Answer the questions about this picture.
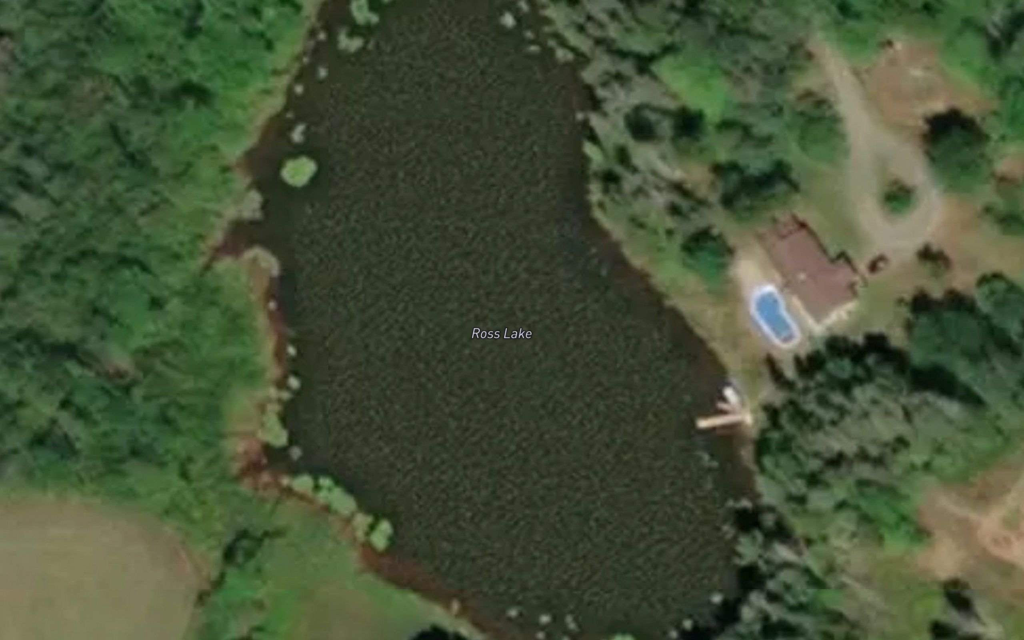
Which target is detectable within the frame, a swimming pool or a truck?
swimming pool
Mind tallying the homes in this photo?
1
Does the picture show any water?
Yes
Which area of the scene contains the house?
right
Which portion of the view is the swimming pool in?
right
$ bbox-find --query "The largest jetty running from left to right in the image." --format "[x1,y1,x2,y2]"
[696,408,758,428]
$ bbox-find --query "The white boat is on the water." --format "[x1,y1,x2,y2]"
[722,383,739,407]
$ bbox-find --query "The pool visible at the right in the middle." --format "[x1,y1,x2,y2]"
[750,284,801,348]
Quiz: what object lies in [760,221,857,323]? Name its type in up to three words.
house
